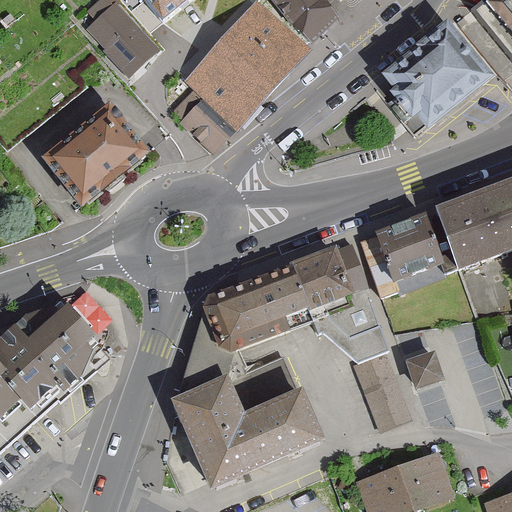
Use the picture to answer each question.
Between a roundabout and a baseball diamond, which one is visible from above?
roundabout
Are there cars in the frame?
Yes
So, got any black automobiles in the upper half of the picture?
Yes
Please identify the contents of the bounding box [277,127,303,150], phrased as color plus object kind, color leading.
white vehicle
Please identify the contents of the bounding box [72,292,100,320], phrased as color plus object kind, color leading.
red umbrella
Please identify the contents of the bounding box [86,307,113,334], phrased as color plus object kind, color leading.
red umbrella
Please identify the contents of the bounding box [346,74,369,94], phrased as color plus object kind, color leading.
black car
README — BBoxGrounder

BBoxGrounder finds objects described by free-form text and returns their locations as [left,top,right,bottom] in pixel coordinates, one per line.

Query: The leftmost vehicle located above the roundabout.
[185,6,204,26]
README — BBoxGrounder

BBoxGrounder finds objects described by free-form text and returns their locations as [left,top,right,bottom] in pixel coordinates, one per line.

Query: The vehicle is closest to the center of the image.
[237,237,258,252]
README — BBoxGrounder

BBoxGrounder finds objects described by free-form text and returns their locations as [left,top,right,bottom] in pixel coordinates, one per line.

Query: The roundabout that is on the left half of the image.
[112,170,250,294]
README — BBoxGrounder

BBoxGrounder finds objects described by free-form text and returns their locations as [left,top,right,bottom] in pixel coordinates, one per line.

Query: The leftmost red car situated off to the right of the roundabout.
[316,226,337,240]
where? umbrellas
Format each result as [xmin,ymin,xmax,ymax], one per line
[72,292,100,320]
[86,307,113,334]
